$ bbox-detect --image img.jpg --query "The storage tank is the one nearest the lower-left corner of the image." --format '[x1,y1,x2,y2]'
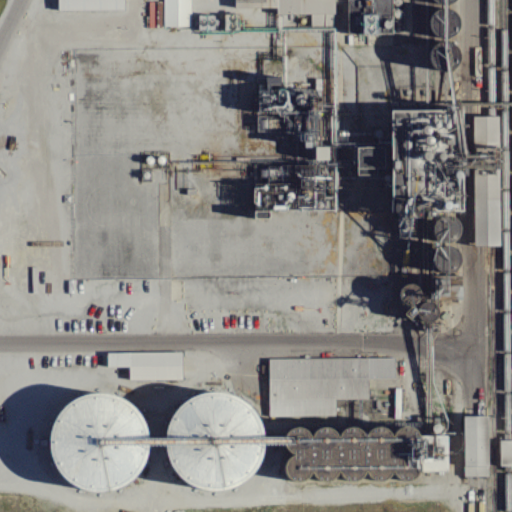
[50,389,150,496]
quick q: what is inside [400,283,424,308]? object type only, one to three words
silo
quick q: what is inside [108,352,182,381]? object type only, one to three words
building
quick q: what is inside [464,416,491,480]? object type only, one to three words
shed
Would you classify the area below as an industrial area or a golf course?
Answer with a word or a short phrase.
industrial area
